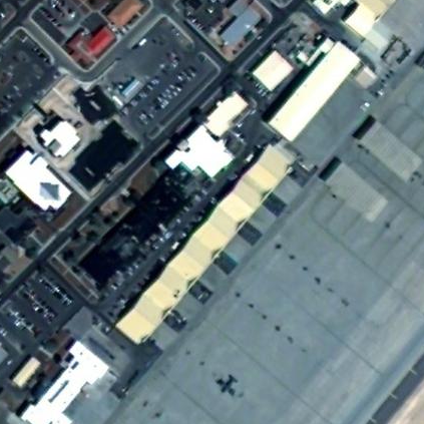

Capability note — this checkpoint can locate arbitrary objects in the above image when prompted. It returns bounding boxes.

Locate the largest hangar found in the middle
[116,144,290,344]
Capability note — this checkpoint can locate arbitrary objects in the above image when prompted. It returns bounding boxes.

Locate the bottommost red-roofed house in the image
[88,27,117,56]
